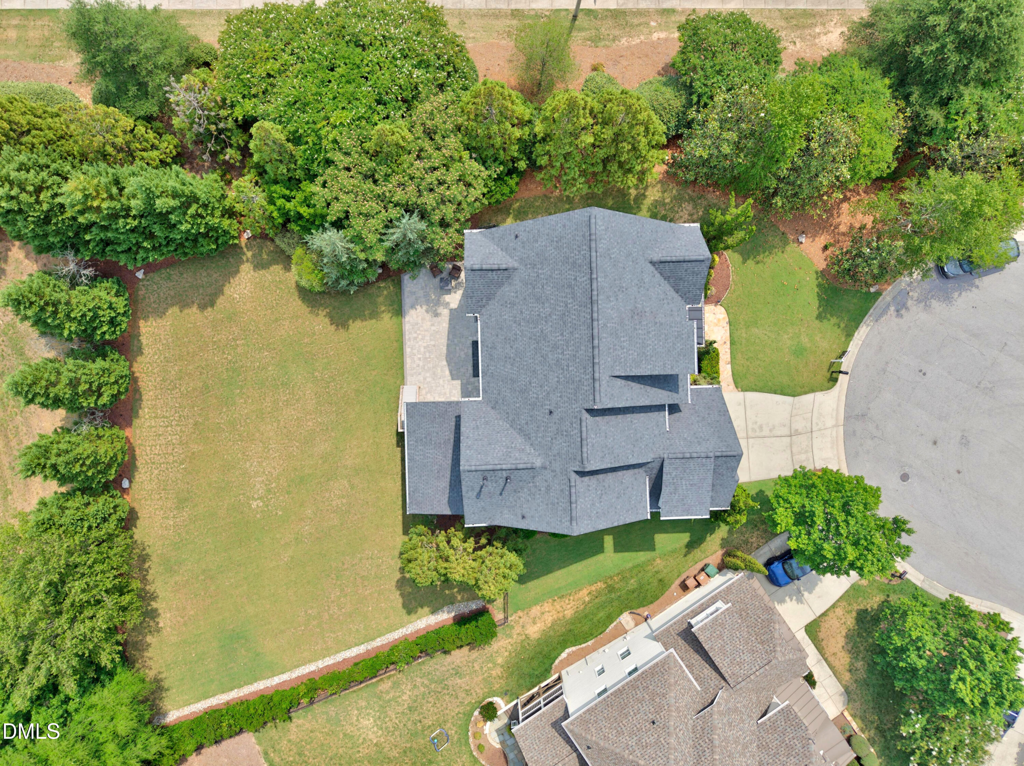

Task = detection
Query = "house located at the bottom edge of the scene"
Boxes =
[480,566,861,766]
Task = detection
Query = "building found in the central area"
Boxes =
[403,207,742,535]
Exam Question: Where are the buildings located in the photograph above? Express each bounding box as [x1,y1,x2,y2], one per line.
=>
[480,566,861,766]
[403,207,742,535]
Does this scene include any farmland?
No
